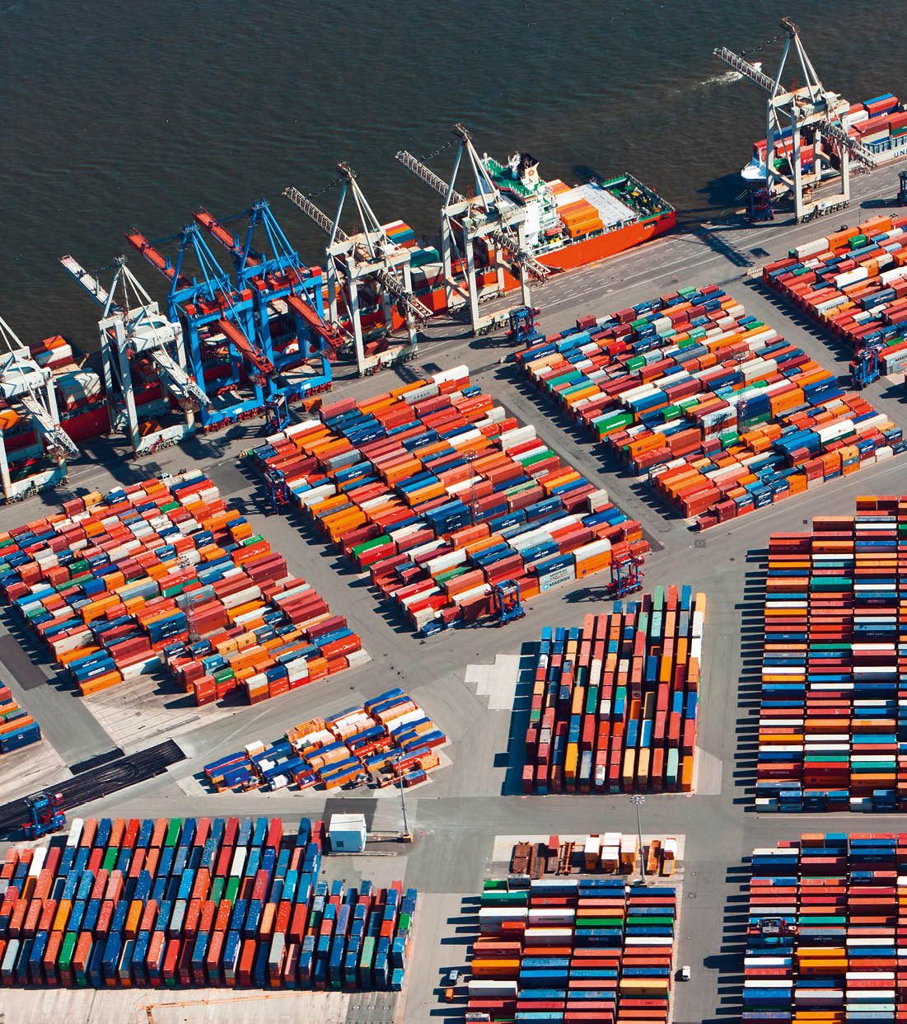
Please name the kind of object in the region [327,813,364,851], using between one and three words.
shed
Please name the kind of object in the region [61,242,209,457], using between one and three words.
container crane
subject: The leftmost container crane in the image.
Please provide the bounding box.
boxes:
[0,295,80,502]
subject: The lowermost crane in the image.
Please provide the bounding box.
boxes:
[127,988,322,1024]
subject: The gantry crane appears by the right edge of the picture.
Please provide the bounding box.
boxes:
[714,15,885,223]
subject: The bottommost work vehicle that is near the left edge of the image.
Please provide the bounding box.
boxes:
[21,783,67,839]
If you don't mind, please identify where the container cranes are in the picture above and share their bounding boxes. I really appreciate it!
[0,295,80,502]
[195,199,357,405]
[282,160,439,376]
[125,223,285,432]
[61,242,209,457]
[714,15,885,223]
[395,122,556,336]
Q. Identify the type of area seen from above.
port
